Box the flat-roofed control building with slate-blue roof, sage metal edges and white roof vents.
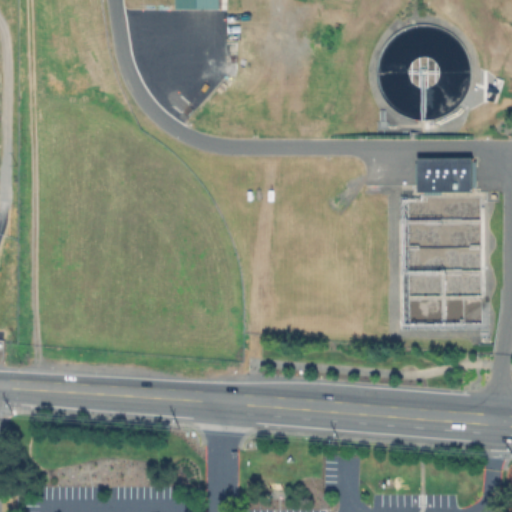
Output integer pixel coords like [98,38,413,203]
[416,158,476,194]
